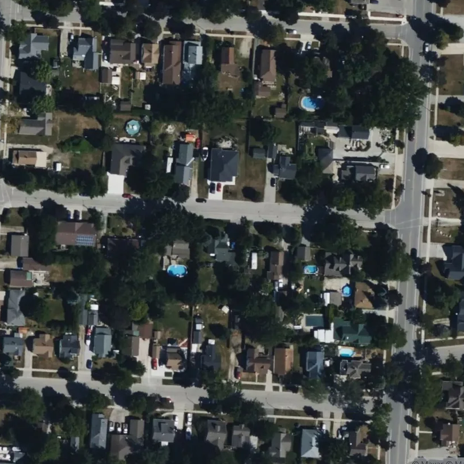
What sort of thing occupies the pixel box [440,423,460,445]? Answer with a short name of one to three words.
house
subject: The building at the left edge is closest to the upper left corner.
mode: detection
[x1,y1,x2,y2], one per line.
[19,34,48,59]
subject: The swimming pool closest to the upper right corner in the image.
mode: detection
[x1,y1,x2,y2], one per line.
[297,95,325,111]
